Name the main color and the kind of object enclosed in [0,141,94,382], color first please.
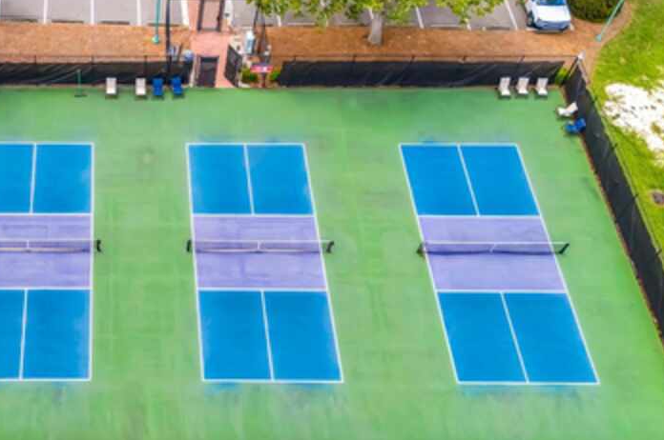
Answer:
blue sports court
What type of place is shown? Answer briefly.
sports ground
